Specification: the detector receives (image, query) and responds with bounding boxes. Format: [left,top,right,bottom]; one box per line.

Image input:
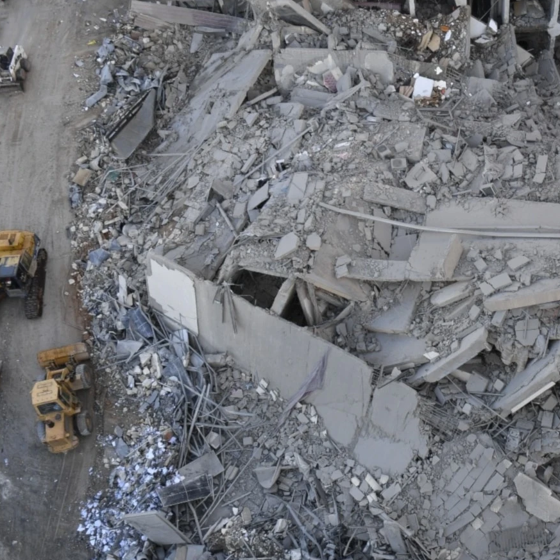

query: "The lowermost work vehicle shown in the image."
[28,331,96,461]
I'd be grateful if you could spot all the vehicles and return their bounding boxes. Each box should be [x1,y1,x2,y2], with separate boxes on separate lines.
[0,227,53,331]
[0,47,27,100]
[28,331,96,461]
